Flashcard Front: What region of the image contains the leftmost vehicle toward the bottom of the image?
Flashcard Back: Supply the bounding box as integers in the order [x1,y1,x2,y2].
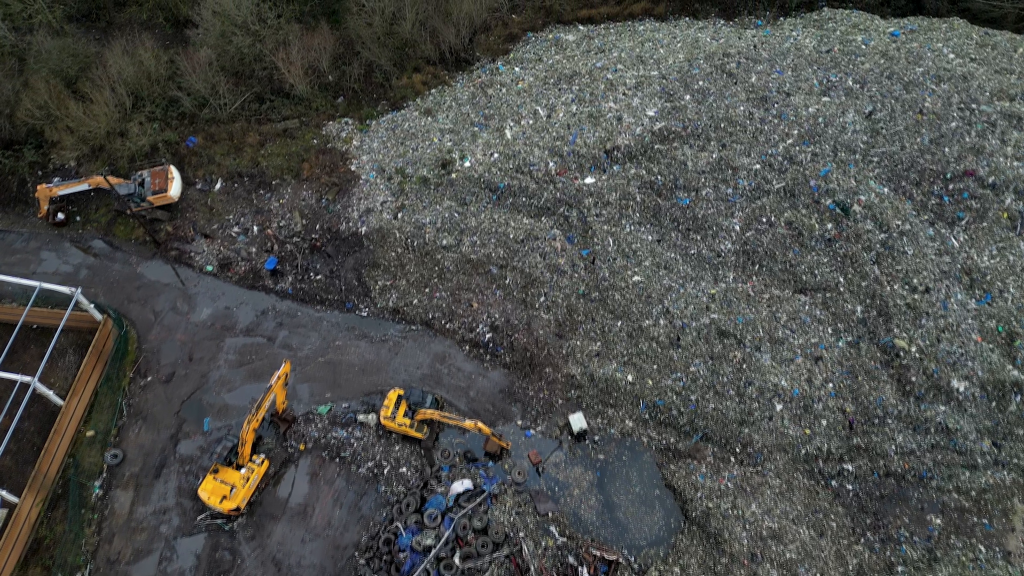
[199,356,300,517]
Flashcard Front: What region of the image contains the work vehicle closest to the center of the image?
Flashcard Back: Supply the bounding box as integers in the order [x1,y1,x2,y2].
[376,384,517,461]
